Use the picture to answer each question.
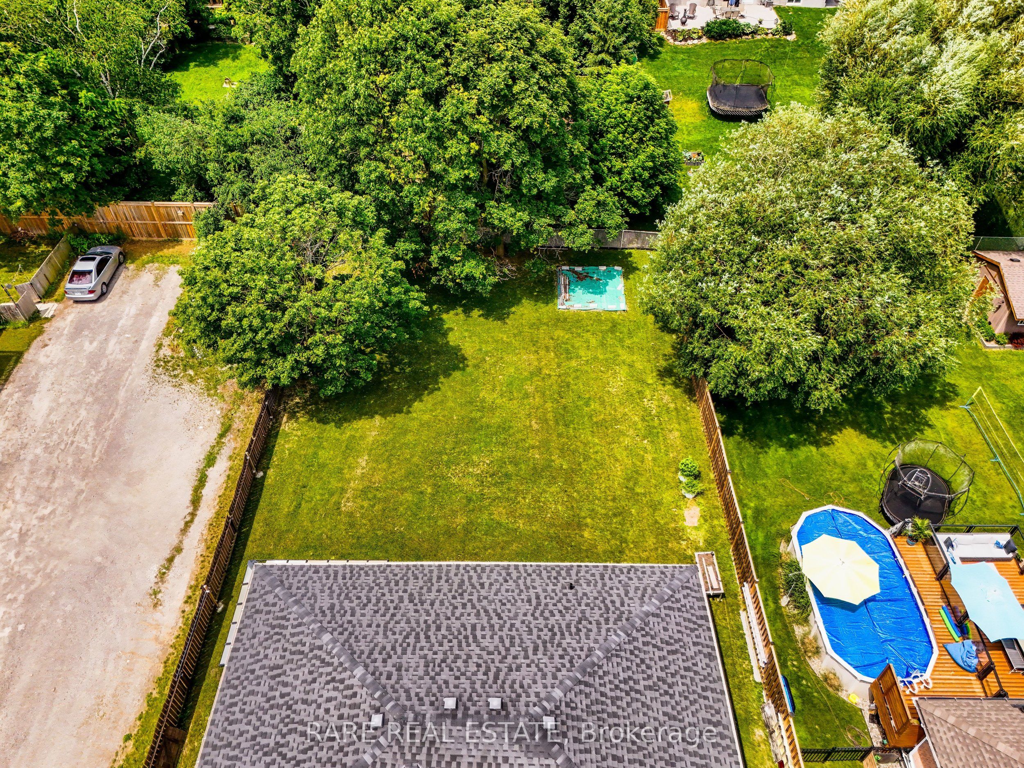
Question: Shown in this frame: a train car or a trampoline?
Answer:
trampoline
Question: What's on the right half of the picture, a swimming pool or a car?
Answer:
swimming pool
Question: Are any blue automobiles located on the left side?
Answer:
No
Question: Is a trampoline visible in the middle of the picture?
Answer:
No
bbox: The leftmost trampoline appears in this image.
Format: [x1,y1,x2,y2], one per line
[702,60,779,124]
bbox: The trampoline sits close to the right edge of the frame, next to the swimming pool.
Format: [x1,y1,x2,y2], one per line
[874,437,975,534]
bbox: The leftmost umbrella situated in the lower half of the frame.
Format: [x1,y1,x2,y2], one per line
[795,534,880,610]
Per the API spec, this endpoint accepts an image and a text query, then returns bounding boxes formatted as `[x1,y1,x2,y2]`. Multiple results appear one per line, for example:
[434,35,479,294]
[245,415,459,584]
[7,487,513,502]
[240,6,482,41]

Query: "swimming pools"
[782,504,940,703]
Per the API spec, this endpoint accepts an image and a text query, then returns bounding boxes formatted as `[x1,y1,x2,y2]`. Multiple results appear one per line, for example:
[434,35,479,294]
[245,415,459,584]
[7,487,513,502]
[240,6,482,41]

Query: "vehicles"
[57,243,125,306]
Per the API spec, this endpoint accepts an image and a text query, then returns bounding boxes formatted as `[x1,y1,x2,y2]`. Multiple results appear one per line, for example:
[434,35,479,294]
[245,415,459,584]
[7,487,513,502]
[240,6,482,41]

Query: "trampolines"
[874,437,975,534]
[702,60,779,124]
